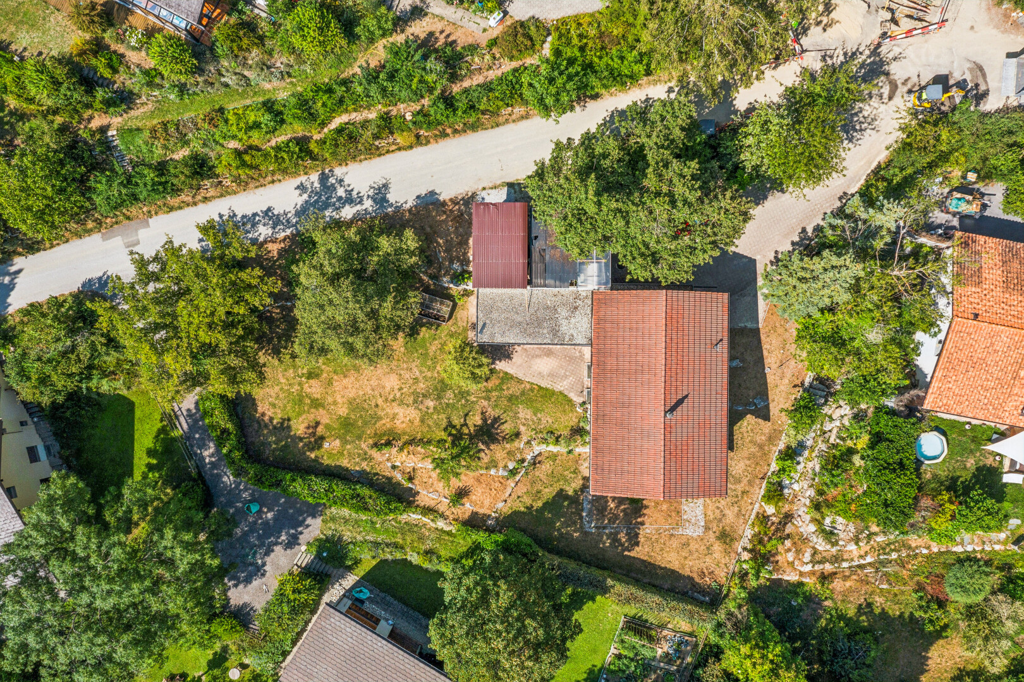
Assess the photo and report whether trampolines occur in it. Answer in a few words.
No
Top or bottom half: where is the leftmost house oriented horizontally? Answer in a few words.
top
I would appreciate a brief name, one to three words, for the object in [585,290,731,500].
house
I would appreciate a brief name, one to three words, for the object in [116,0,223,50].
house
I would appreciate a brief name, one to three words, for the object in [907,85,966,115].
work vehicle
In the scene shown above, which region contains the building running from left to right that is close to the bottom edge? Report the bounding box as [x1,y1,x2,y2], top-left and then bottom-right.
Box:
[275,600,454,682]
